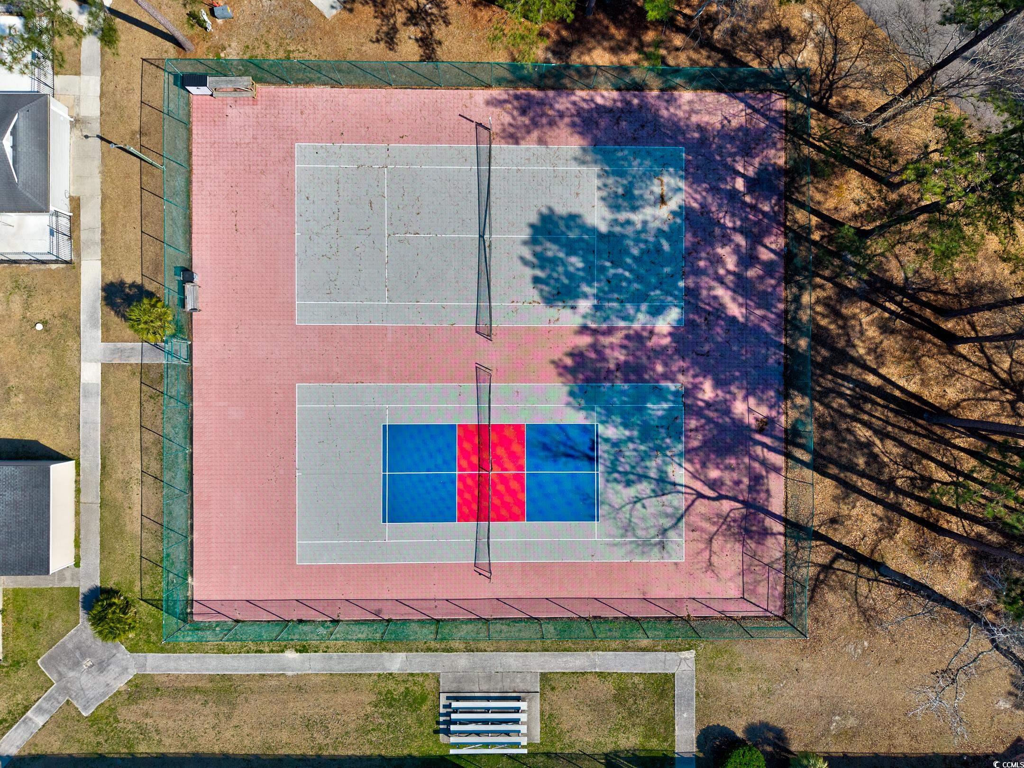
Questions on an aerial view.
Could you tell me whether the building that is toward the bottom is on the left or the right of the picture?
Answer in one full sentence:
The building that is toward the bottom sits on the left side.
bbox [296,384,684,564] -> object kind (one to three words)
tennis court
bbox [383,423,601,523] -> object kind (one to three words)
sports court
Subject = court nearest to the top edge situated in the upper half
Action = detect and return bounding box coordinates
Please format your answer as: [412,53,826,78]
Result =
[295,144,684,325]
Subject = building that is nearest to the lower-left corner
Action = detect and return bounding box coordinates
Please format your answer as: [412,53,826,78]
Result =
[0,461,76,578]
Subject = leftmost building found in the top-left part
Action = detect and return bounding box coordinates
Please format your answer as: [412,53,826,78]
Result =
[0,93,75,220]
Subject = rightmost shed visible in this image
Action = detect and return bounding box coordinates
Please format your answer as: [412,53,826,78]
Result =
[184,74,216,96]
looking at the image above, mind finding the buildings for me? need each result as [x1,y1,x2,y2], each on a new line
[0,93,75,220]
[0,461,76,578]
[184,74,216,96]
